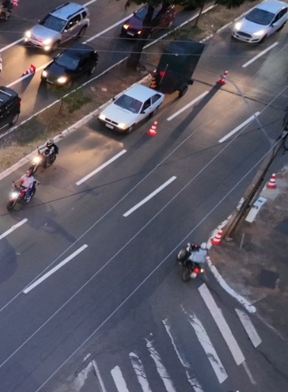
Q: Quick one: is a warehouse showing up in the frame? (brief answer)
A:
No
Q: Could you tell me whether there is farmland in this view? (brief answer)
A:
No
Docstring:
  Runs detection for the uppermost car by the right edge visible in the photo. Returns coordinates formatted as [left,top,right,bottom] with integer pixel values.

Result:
[232,0,288,42]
